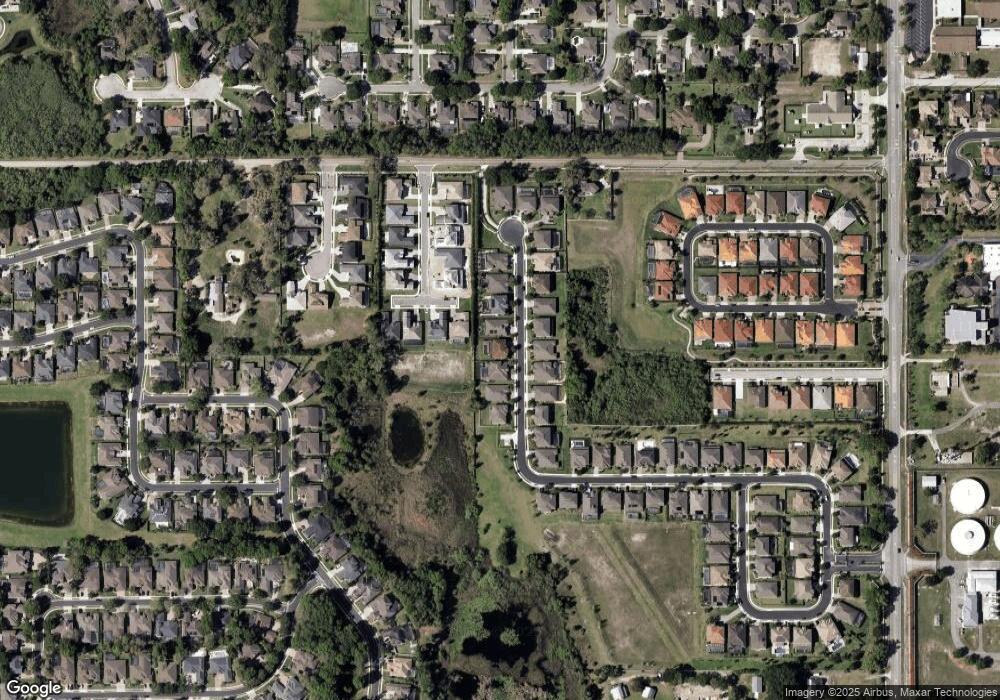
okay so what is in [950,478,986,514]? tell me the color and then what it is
white water tank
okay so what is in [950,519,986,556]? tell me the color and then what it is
white water tank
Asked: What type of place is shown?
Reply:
residential area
